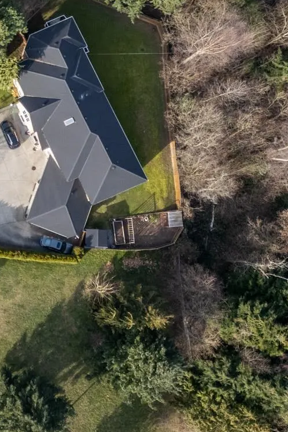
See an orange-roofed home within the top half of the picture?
No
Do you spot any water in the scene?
No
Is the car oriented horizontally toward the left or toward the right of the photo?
left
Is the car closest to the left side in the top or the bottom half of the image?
top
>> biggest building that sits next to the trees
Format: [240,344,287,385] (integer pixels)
[14,14,149,239]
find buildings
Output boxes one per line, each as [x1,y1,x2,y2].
[14,14,149,239]
[161,209,183,227]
